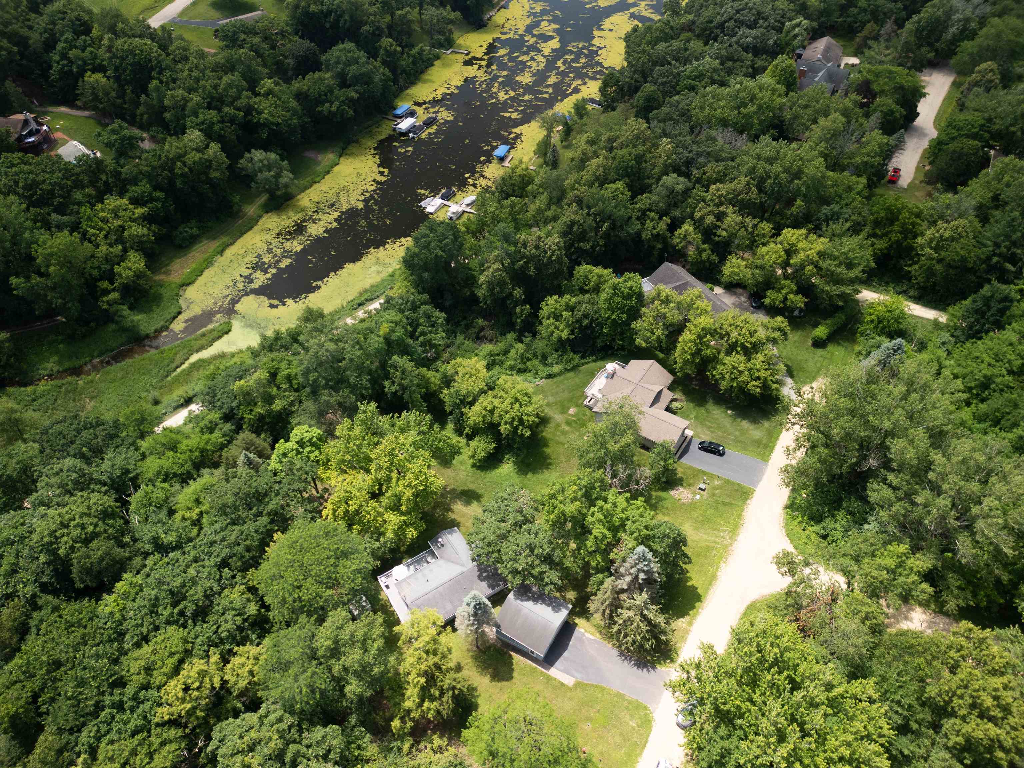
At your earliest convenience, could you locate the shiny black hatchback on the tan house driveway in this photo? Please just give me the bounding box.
[698,442,726,458]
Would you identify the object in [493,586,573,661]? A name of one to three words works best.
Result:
building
